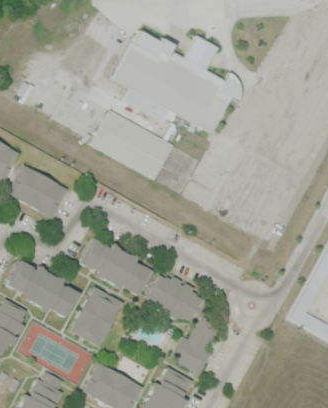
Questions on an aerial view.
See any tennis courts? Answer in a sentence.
Yes, you can see a tennis court in this photo.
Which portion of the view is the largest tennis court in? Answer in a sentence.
Look in the bottom left portion of the view to spot the largest tennis court.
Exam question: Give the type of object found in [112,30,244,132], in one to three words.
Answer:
hangar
